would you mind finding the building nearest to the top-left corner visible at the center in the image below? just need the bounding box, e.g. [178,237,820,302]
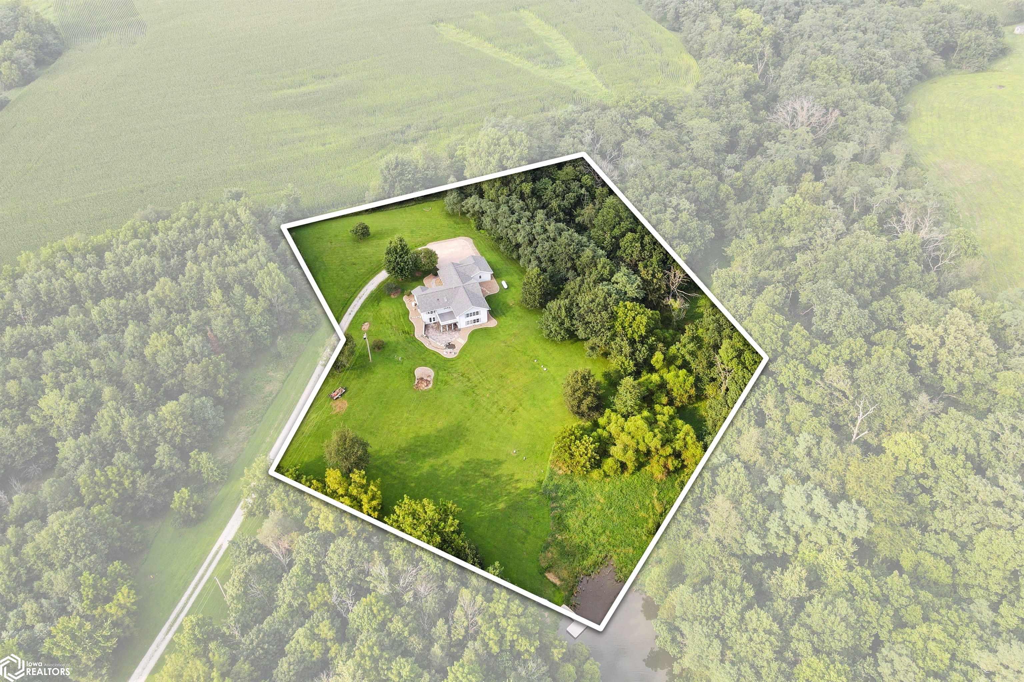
[410,255,494,331]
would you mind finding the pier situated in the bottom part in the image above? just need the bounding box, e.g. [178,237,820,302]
[561,605,588,638]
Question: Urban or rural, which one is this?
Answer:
rural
